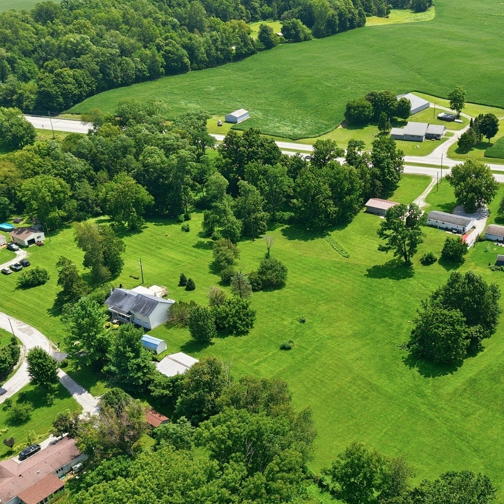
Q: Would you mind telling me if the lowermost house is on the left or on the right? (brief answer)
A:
left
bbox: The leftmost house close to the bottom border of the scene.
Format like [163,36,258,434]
[0,438,88,504]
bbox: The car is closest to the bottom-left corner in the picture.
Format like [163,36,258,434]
[15,439,43,459]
